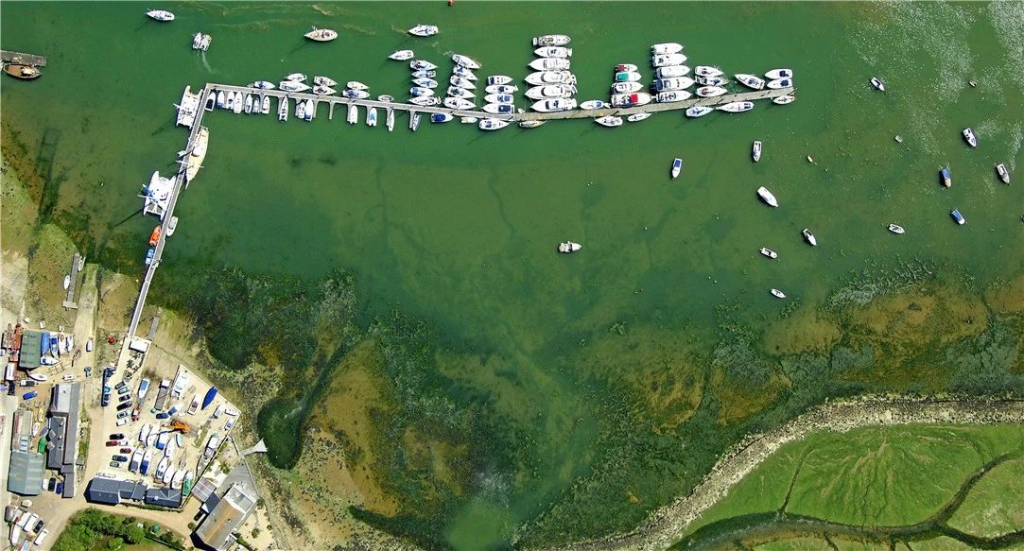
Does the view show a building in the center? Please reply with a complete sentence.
No, no building is visible in the center.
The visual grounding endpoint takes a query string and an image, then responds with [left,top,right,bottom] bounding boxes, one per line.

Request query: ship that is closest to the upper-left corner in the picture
[2,63,41,77]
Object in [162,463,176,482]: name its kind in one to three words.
boat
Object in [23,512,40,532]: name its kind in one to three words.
camper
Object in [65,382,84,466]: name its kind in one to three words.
shed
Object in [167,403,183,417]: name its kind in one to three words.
vehicle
